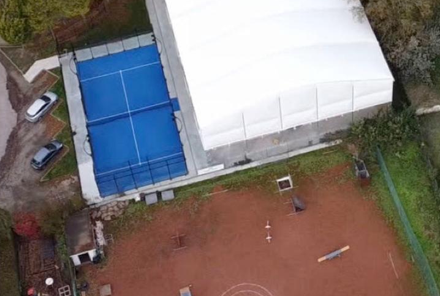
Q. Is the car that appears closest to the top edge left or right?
left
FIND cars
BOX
[23,137,64,170]
[21,87,59,120]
